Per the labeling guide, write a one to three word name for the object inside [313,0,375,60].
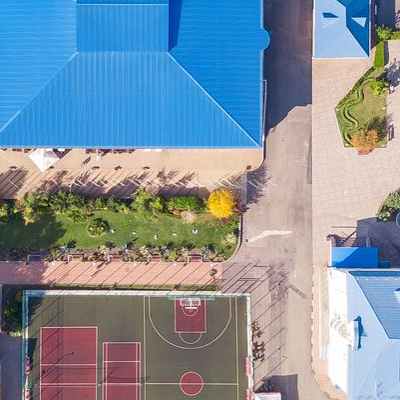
building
